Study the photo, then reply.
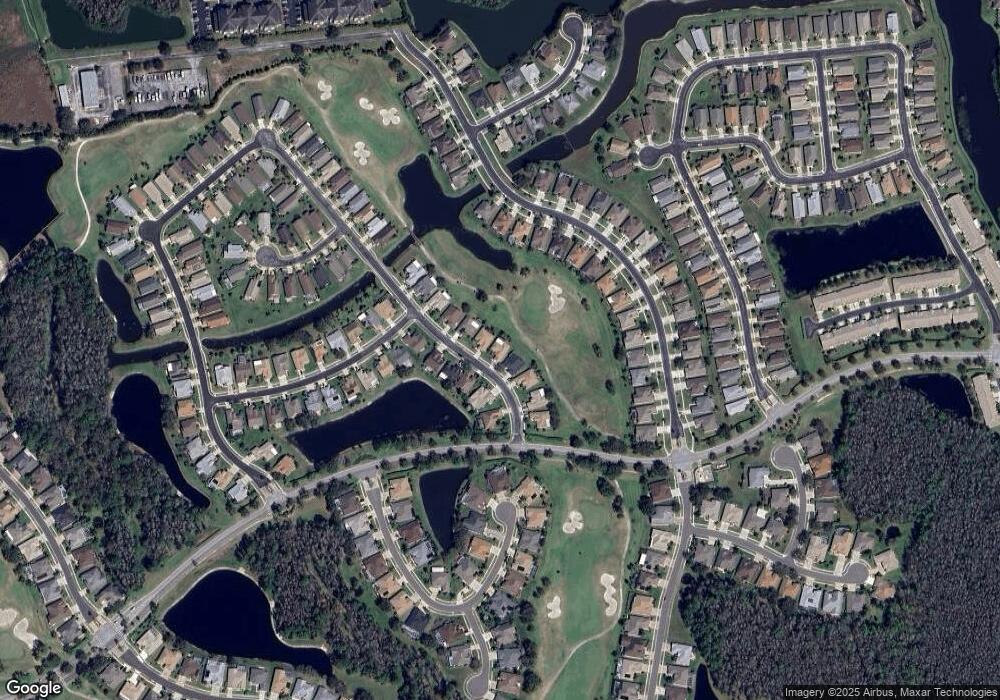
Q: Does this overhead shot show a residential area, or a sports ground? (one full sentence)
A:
This image shows a residential area.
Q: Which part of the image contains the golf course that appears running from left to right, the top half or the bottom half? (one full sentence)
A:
It is in the top half that the golf course that appears running from left to right appears.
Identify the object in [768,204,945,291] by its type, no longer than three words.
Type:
pond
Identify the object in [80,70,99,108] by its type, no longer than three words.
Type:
building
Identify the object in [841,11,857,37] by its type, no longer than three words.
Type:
house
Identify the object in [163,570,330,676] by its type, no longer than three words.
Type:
pond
